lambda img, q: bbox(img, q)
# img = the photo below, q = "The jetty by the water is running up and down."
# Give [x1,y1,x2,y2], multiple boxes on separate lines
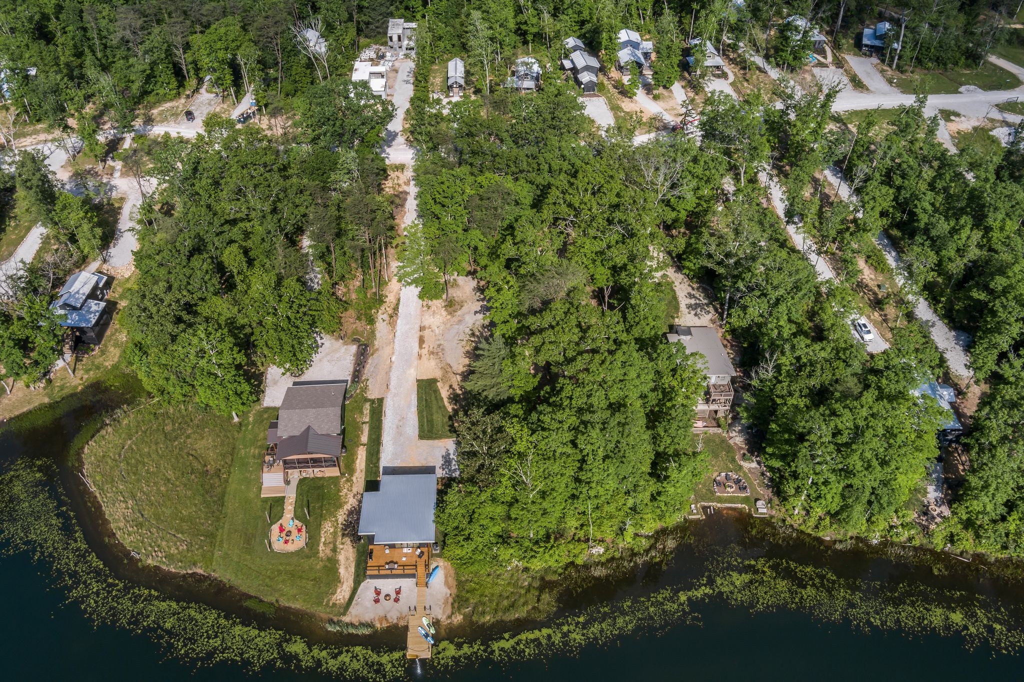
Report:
[405,587,432,659]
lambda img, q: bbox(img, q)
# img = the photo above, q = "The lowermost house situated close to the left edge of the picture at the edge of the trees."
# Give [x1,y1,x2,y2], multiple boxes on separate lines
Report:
[49,271,119,348]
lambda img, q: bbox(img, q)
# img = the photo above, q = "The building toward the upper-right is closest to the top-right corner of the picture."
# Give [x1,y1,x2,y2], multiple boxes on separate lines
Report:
[858,18,899,57]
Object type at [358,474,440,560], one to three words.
house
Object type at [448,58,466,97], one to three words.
house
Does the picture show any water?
Yes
